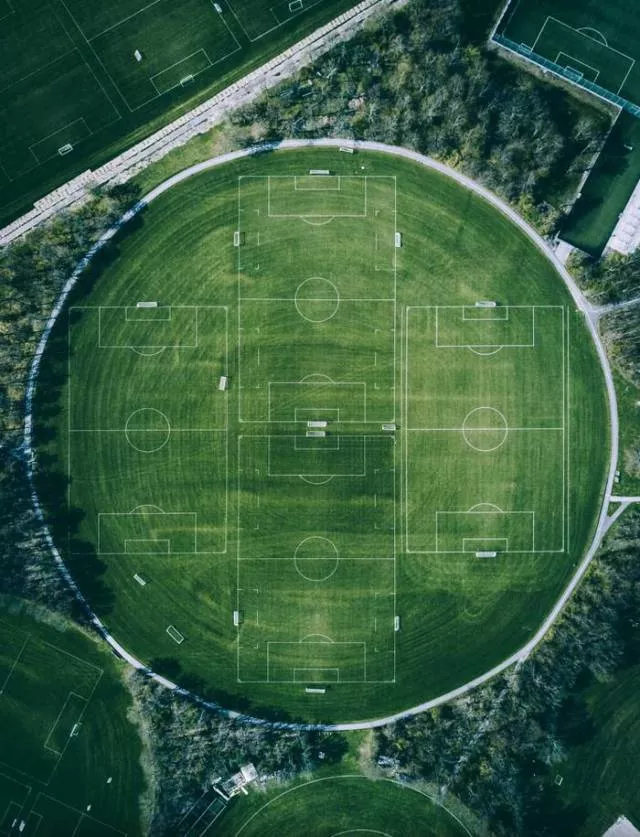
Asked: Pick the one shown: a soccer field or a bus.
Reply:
soccer field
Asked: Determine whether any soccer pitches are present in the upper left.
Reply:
Yes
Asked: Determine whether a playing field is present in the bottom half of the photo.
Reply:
Yes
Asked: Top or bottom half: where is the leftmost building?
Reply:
bottom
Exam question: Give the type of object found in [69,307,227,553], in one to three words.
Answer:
soccer field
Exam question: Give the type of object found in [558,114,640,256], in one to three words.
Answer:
sports field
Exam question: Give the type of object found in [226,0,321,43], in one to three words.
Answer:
soccer field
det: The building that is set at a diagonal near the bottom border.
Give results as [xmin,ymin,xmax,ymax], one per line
[222,764,257,799]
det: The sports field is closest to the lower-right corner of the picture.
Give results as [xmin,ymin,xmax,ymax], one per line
[228,770,477,837]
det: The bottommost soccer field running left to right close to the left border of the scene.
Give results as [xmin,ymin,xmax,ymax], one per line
[19,793,127,837]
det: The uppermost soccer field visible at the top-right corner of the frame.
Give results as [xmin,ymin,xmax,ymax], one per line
[486,0,640,123]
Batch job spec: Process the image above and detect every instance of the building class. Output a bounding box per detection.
[222,764,257,799]
[604,817,640,837]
